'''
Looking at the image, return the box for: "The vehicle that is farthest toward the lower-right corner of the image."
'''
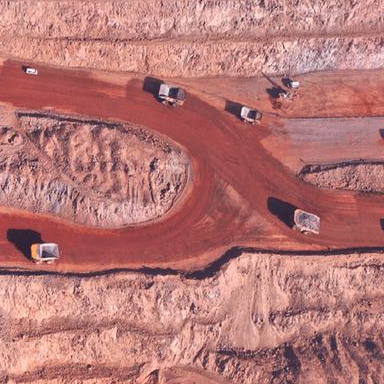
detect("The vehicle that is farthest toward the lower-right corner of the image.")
[293,214,324,235]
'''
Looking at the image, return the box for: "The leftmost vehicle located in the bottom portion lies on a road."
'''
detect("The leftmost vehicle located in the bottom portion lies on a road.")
[31,243,60,263]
